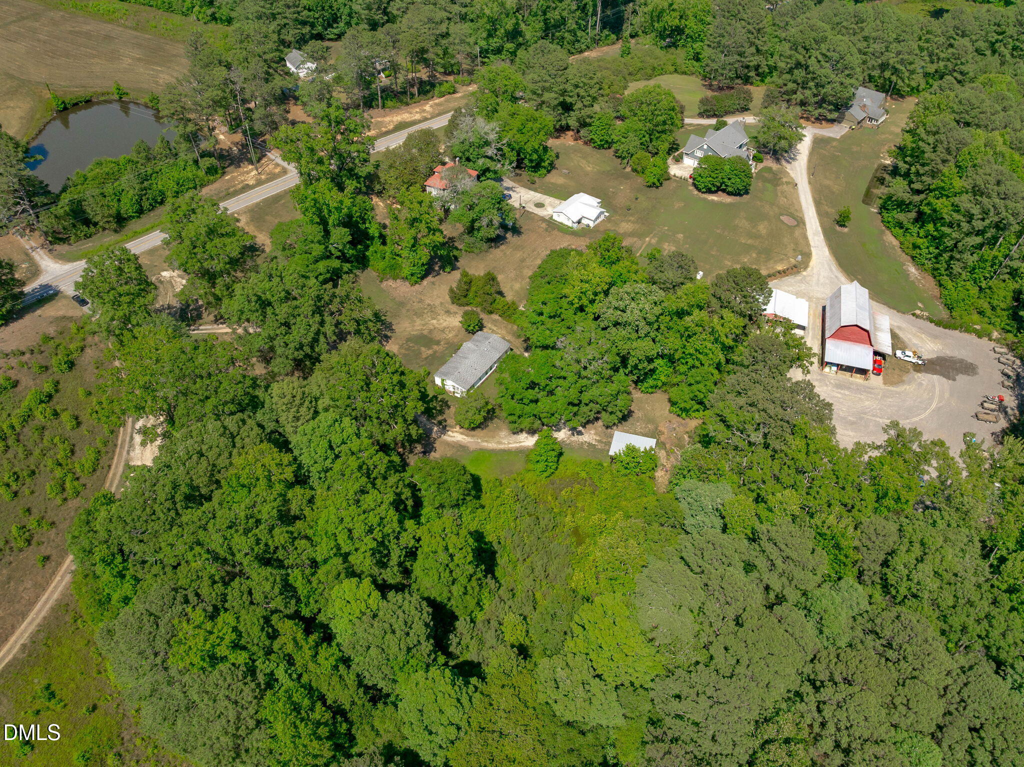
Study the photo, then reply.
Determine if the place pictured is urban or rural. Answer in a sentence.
The area shown here is rural.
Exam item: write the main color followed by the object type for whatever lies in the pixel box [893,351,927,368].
white vehicle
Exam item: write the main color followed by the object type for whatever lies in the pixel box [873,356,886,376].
red vehicle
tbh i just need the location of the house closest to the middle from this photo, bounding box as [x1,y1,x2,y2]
[434,331,514,398]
